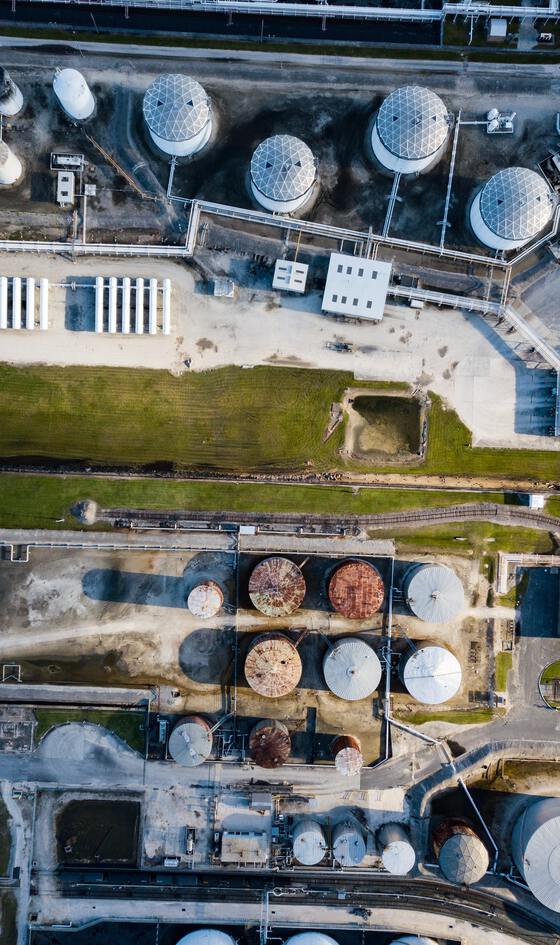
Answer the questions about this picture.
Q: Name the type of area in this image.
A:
industrial area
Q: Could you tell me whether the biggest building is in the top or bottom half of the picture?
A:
top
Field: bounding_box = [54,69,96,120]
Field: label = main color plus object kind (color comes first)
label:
white storage tank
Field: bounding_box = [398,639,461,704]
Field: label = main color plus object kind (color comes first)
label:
white storage tank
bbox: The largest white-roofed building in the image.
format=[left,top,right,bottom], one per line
[321,253,392,324]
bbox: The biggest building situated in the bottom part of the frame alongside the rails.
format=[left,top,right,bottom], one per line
[221,822,268,863]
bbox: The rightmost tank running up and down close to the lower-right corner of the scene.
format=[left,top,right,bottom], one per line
[511,796,560,911]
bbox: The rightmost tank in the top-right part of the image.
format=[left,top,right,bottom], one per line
[470,165,556,253]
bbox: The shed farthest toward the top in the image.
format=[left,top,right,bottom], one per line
[488,19,506,42]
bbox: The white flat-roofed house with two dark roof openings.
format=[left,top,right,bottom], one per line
[58,172,77,212]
